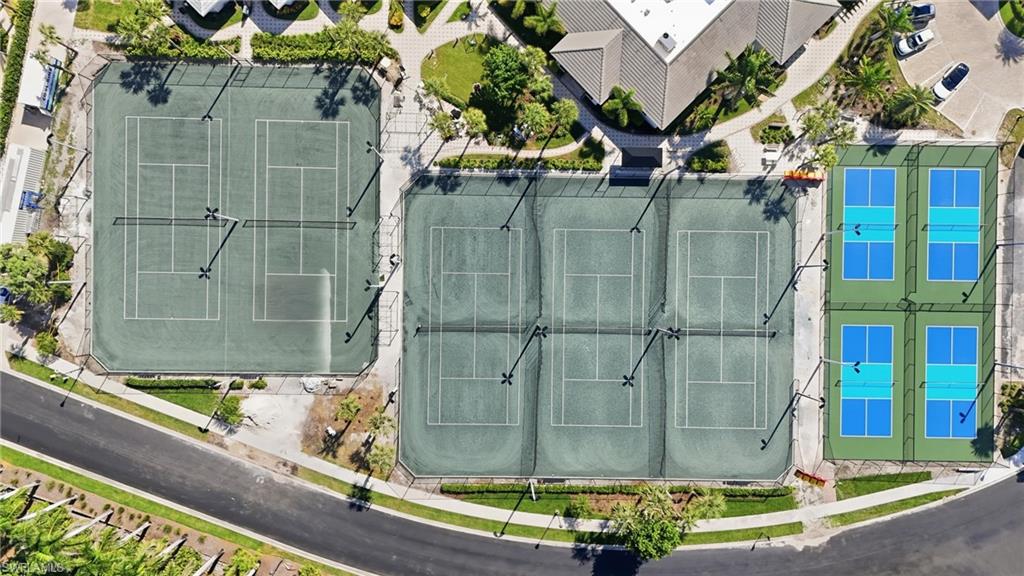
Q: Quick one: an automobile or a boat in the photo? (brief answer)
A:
automobile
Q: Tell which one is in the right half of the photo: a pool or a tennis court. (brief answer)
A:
tennis court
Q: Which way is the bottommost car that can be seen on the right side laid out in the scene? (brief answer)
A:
on a diagonal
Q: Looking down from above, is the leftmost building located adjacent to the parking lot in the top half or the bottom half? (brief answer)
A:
top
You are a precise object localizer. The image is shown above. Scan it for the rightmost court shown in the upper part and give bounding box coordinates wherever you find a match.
[911,146,998,304]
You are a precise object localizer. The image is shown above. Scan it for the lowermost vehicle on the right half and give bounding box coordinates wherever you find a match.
[931,65,968,101]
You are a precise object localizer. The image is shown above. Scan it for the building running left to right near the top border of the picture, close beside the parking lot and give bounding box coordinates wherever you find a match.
[533,0,849,130]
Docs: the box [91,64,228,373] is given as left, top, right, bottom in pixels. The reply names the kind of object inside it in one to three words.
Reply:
tennis court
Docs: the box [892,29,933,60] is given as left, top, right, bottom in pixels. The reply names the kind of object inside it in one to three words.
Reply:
car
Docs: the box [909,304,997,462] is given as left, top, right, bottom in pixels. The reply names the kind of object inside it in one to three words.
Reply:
sports court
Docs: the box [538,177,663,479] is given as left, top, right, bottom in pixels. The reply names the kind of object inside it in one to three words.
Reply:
tennis court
